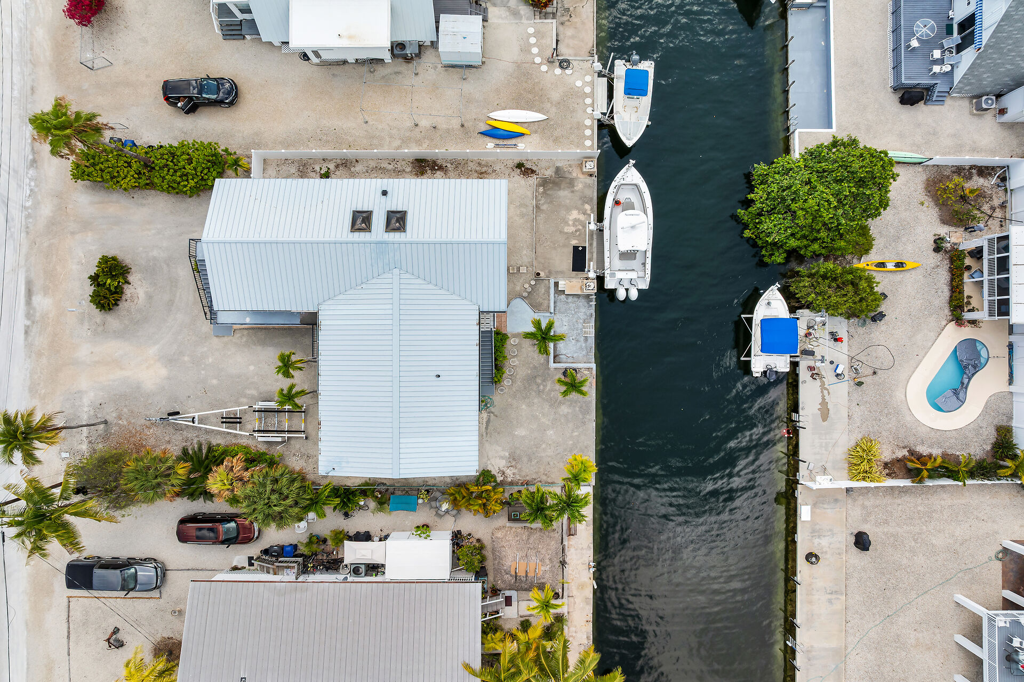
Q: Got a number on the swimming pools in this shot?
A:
1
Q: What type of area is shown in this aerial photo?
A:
residential area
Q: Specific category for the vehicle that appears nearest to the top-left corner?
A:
automobile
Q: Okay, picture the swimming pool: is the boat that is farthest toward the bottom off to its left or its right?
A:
to the left of it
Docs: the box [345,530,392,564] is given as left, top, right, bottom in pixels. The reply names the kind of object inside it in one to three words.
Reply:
gazebo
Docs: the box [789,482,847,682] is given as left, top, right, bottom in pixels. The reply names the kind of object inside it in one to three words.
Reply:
pier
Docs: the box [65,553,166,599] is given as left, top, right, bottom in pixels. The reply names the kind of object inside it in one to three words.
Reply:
truck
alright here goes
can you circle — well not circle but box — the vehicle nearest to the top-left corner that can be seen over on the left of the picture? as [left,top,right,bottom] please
[162,71,240,124]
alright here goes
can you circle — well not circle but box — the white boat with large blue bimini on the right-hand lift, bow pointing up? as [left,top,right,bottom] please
[748,283,799,386]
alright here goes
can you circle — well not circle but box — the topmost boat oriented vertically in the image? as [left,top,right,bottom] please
[614,50,653,147]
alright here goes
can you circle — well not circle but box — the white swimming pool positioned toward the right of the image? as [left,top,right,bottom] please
[905,320,1010,430]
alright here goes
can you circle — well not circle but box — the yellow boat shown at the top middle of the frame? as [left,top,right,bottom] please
[484,119,530,133]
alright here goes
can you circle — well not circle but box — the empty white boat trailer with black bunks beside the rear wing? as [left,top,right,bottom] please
[146,401,306,449]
